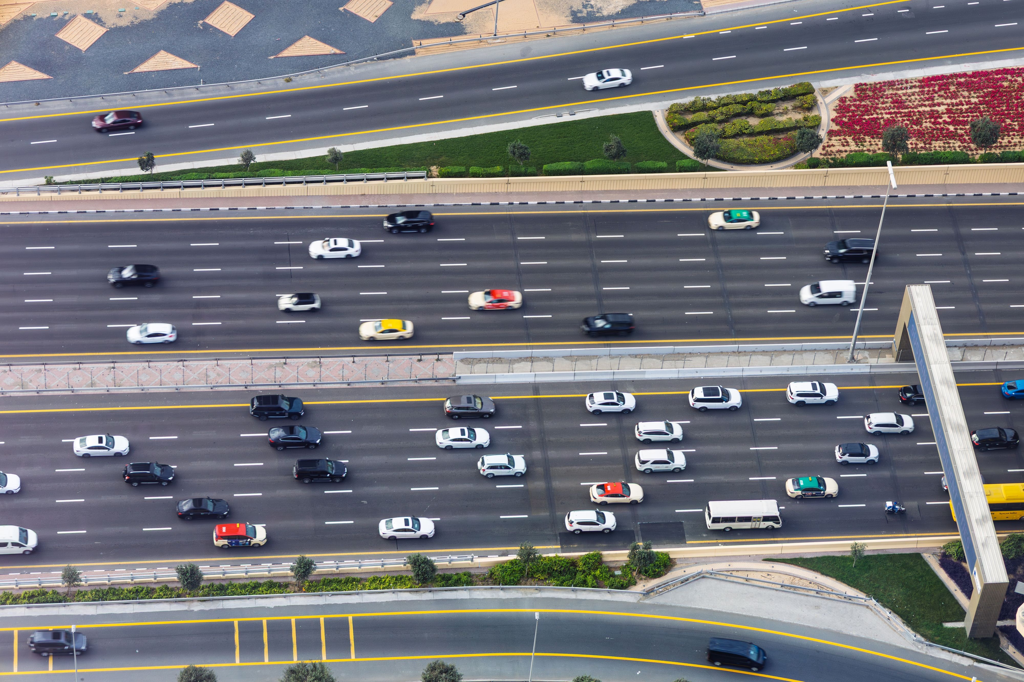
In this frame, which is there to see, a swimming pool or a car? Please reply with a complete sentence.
This aerial view contains a car.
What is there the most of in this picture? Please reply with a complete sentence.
The scene is dominated by paved ground.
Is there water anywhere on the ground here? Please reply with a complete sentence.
No, there's no water in this view.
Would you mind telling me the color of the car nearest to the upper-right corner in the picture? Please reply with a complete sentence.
In this view, the car nearest to the upper-right corner is black.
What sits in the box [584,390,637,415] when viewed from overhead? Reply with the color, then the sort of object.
white car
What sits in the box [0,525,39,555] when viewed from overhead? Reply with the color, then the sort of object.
white van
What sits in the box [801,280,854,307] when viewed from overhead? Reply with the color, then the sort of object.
white vehicle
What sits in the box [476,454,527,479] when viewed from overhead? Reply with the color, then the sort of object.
white car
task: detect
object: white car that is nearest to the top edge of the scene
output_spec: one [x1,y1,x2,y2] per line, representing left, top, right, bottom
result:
[583,69,631,91]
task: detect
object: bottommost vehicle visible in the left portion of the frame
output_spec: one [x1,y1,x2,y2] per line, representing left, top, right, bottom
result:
[26,629,87,658]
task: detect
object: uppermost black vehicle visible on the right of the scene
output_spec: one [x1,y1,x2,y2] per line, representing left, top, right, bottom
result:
[825,239,875,264]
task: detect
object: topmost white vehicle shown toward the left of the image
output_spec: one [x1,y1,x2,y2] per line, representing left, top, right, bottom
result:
[309,237,361,259]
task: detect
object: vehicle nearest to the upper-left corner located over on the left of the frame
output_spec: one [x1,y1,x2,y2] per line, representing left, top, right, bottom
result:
[92,111,143,133]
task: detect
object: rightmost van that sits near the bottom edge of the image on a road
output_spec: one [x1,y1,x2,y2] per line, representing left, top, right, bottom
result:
[705,637,767,674]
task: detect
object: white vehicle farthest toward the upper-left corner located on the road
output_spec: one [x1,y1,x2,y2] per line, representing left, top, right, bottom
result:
[127,322,176,345]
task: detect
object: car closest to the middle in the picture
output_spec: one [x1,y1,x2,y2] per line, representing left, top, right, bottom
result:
[469,288,521,311]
